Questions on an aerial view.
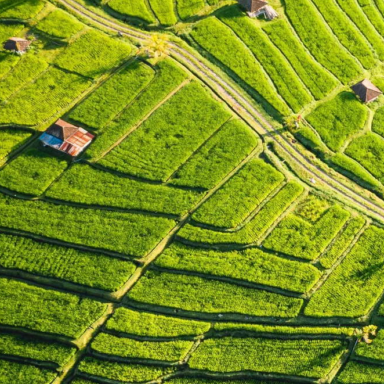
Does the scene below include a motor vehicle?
No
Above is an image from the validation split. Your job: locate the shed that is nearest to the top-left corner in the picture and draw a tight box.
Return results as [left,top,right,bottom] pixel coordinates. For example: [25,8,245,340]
[0,39,36,57]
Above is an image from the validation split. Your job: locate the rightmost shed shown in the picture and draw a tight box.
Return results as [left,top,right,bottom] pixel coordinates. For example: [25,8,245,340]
[345,80,384,105]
